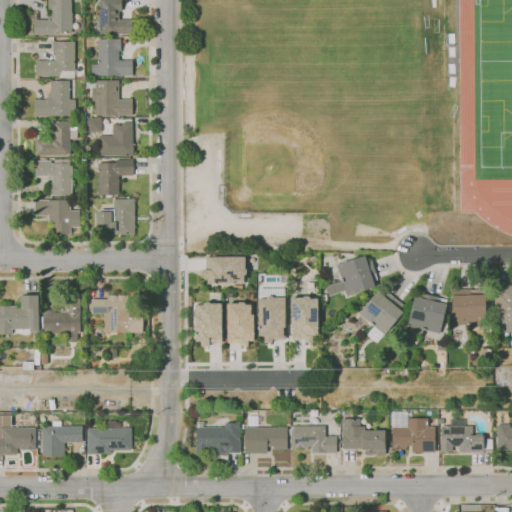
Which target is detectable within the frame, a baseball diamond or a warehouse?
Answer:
baseball diamond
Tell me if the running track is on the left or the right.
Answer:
right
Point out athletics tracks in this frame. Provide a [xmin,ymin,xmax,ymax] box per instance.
[461,0,512,234]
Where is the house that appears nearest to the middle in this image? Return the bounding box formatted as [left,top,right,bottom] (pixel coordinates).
[202,257,246,286]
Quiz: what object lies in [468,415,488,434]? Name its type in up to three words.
swimming pool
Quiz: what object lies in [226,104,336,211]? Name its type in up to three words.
baseball field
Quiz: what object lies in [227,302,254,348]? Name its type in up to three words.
house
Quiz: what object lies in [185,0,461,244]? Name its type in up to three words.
sports field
